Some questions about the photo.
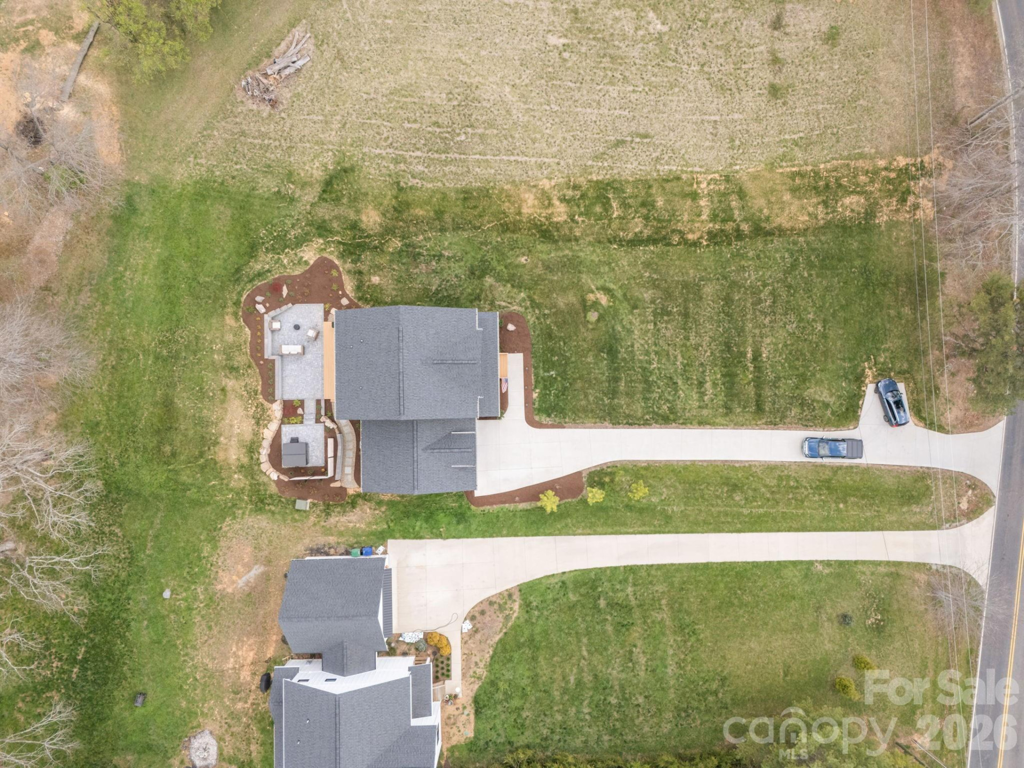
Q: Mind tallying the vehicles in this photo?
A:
2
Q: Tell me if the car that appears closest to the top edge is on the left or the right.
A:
right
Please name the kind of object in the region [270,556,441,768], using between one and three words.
house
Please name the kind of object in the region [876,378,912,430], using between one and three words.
car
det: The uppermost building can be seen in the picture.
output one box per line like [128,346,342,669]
[333,306,501,494]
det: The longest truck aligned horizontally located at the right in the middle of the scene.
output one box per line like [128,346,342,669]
[800,436,862,462]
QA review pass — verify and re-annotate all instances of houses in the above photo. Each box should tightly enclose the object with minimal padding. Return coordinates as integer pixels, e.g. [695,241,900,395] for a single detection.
[333,306,501,494]
[270,556,441,768]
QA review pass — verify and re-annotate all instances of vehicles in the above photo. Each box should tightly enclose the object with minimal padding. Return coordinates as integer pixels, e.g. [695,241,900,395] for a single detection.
[876,378,912,430]
[800,436,862,462]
